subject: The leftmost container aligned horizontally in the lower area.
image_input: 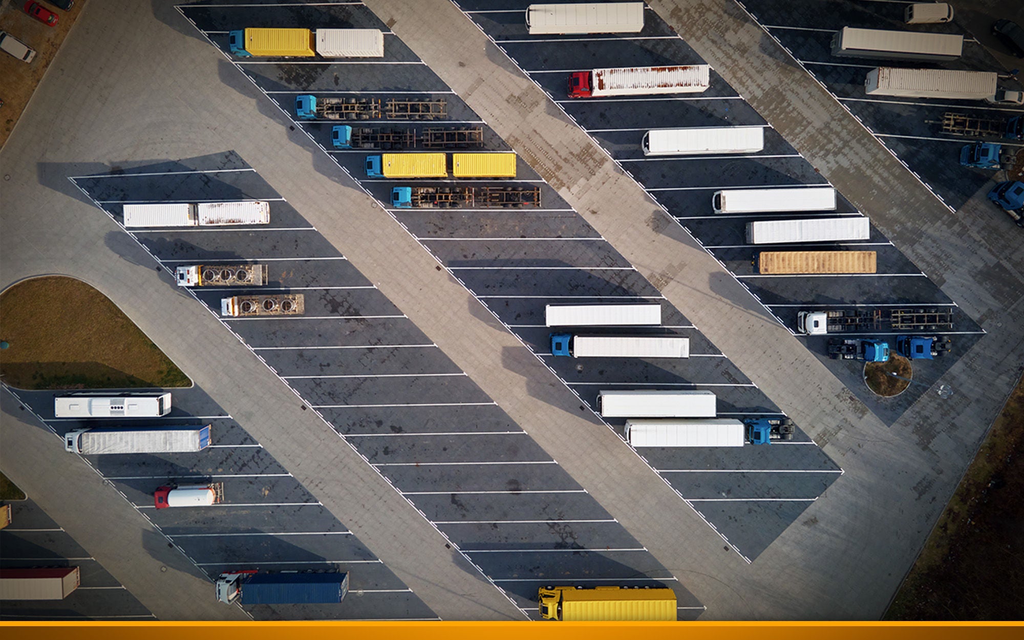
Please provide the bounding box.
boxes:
[0,568,77,600]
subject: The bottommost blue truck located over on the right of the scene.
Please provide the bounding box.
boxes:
[741,418,793,445]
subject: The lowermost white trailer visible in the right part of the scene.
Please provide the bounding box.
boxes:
[625,418,743,446]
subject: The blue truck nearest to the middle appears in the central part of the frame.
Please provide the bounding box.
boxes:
[551,334,574,357]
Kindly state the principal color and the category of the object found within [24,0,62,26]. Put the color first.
red car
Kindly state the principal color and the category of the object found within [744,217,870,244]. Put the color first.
white trailer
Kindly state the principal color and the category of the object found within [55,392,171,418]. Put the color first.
white bus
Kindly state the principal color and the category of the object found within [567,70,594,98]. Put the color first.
red truck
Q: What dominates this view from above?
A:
paved ground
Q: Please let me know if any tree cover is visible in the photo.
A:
No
